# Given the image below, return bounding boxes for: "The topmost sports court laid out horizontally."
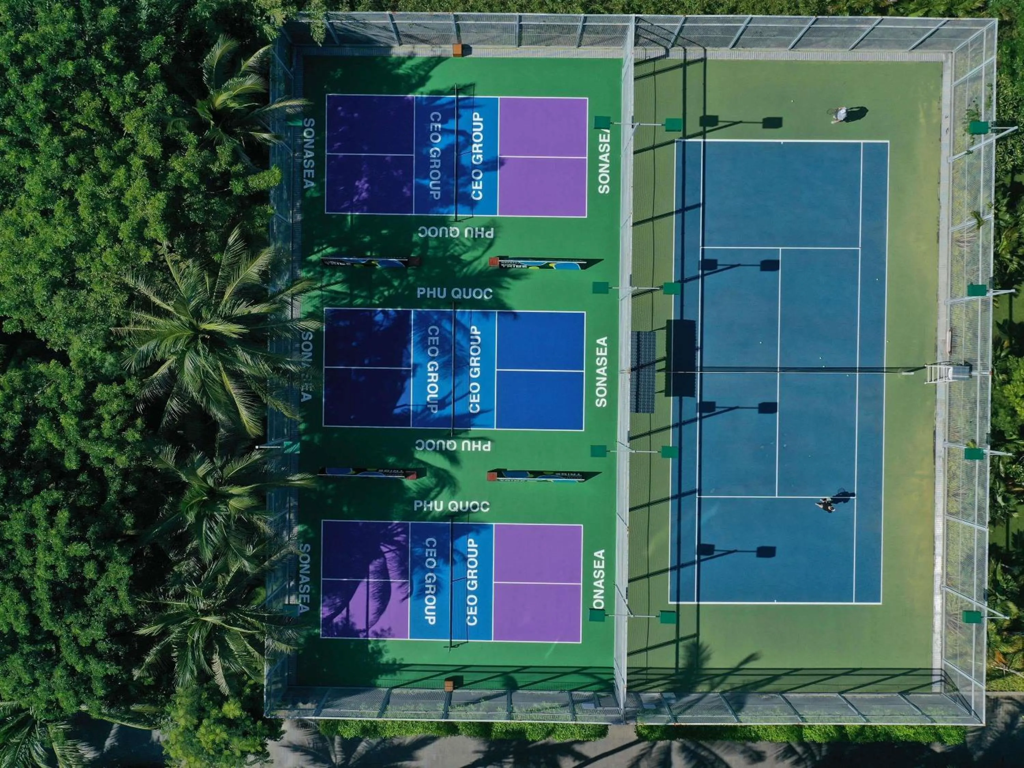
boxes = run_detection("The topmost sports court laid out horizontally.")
[303,94,611,238]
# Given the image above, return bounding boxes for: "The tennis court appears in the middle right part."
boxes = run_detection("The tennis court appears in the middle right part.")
[615,59,943,693]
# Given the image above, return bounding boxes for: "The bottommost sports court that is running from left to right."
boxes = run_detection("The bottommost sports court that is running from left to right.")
[299,501,605,644]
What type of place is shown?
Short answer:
sports ground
